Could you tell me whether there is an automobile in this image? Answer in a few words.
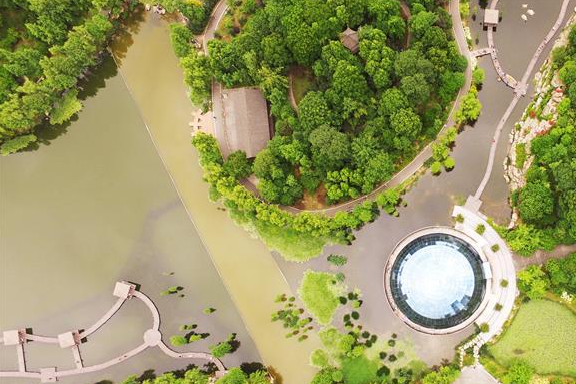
No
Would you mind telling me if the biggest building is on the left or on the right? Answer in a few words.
right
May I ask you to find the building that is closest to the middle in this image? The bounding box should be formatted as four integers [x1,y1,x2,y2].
[225,85,272,165]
